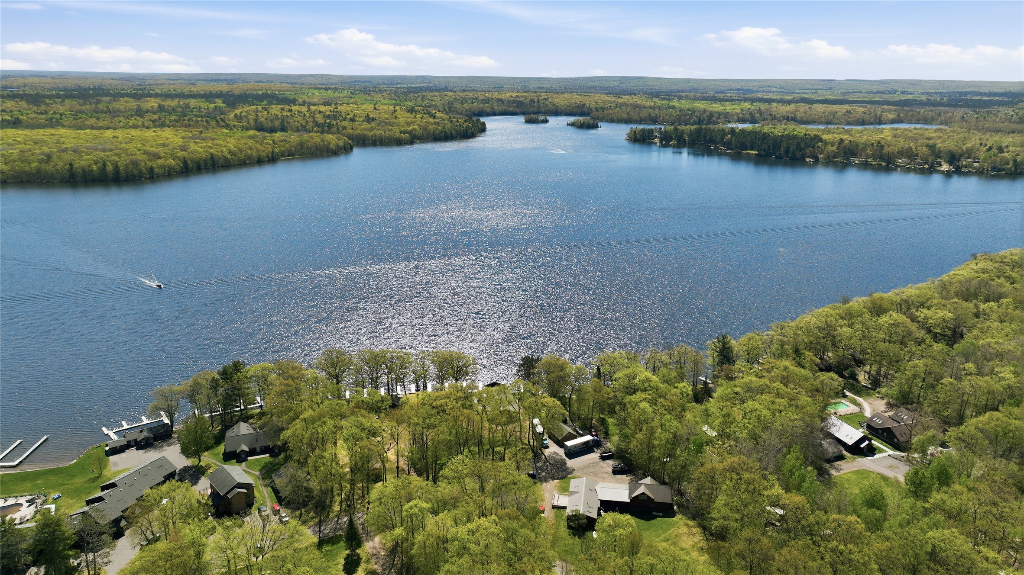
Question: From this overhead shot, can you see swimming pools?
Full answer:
Yes, the picture does show a swimming pool.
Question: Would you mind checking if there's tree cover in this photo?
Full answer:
Yes, there is tree cover in the image.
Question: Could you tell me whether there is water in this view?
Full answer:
Yes, some water is visible.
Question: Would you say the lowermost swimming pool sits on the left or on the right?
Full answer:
The lowermost swimming pool sits on the left side.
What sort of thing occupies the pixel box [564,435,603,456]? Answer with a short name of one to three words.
truck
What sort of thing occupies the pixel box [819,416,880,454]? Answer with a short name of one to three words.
building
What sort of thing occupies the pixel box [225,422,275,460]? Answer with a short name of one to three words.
house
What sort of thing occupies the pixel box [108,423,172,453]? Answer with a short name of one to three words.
house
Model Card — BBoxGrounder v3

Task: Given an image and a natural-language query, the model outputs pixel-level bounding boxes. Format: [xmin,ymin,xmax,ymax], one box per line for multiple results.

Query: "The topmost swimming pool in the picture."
[825,399,860,415]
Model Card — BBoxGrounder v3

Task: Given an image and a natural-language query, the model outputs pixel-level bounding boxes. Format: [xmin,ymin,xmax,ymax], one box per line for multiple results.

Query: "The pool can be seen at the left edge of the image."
[0,497,43,521]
